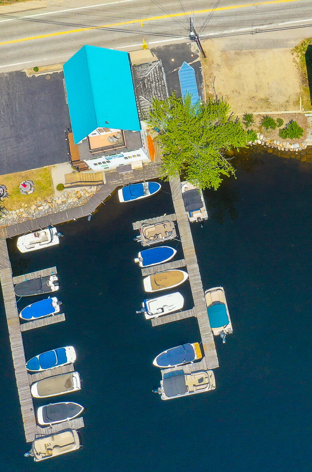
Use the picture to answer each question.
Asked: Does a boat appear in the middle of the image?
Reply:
Yes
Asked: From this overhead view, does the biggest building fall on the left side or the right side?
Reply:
left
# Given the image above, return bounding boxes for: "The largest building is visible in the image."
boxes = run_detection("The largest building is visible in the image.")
[64,43,148,186]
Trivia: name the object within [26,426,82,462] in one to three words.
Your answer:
boat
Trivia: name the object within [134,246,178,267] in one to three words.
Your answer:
boat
